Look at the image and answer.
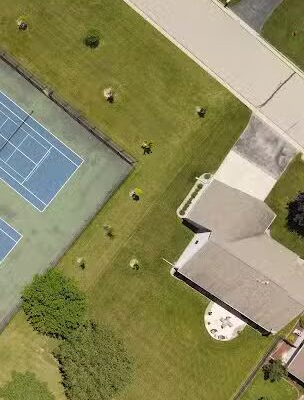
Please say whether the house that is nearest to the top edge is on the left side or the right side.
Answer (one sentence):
You can find the house that is nearest to the top edge on the right side of the picture.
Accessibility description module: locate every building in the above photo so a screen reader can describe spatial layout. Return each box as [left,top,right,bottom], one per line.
[285,337,304,380]
[170,177,304,333]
